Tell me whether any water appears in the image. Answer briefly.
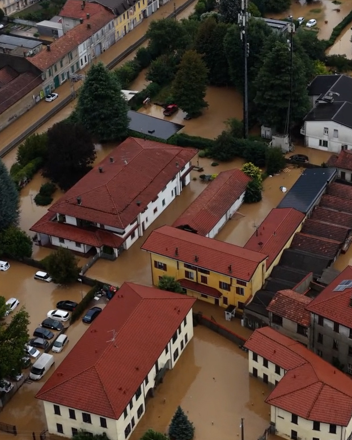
Yes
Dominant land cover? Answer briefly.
buildings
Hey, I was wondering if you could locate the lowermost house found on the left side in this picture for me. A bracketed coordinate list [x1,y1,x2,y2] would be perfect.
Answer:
[35,283,197,440]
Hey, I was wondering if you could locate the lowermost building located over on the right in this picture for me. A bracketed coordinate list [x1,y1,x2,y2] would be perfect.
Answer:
[246,326,352,440]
